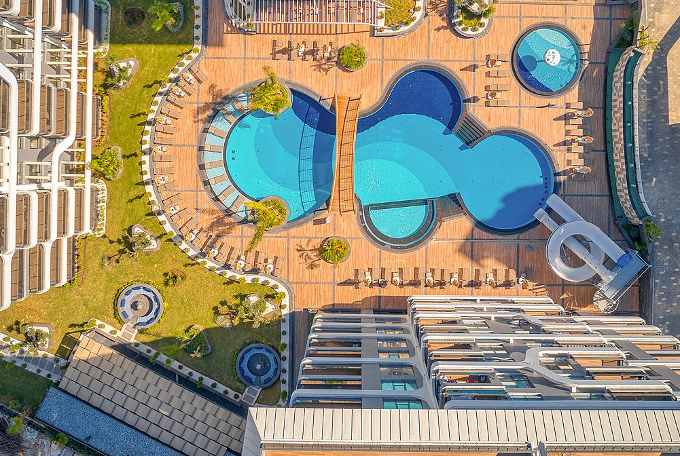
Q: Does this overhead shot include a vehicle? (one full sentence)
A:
No, I can't see a single vehicle in this photo.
